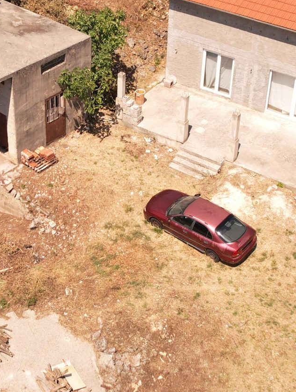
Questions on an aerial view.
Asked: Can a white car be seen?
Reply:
No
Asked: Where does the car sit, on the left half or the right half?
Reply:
right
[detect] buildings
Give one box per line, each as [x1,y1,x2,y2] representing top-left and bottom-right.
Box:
[0,0,92,165]
[166,0,296,122]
